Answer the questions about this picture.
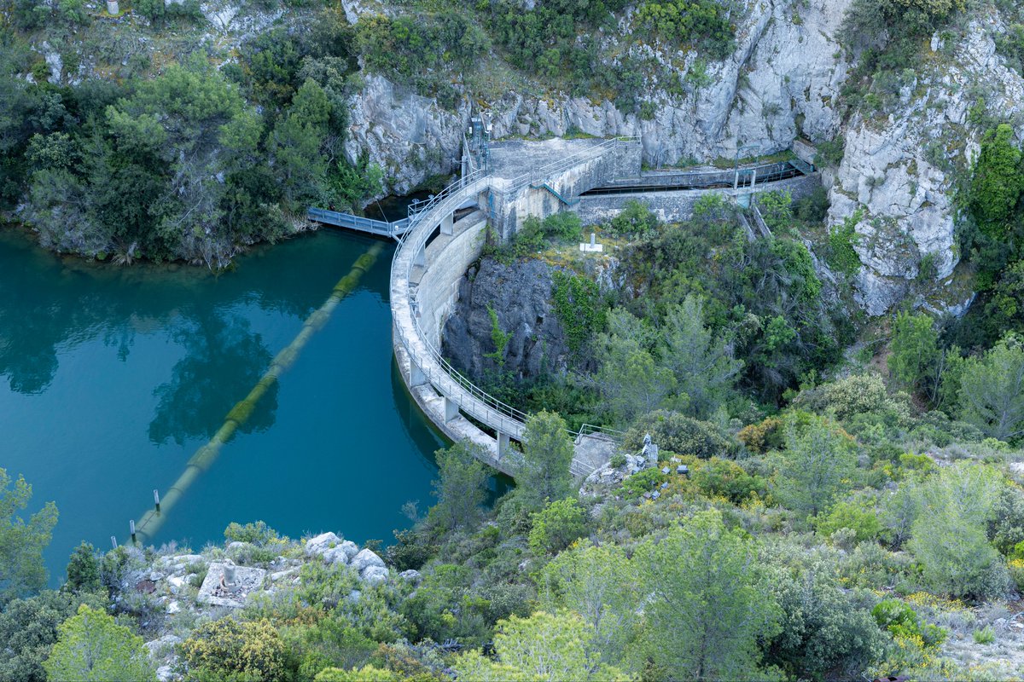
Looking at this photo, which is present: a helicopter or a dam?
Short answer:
dam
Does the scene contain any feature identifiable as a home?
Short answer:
No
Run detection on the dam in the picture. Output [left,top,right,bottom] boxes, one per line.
[390,207,533,534]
